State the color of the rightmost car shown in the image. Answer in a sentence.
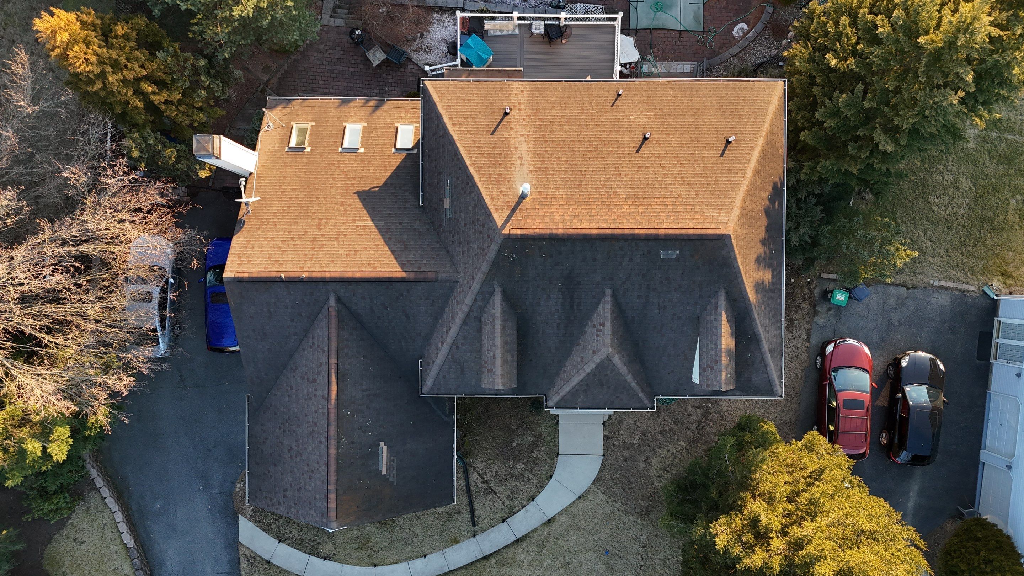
From above, the rightmost car appears black.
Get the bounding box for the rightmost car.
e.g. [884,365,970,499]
[878,346,954,471]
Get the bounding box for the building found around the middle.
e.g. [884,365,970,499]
[191,65,787,530]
